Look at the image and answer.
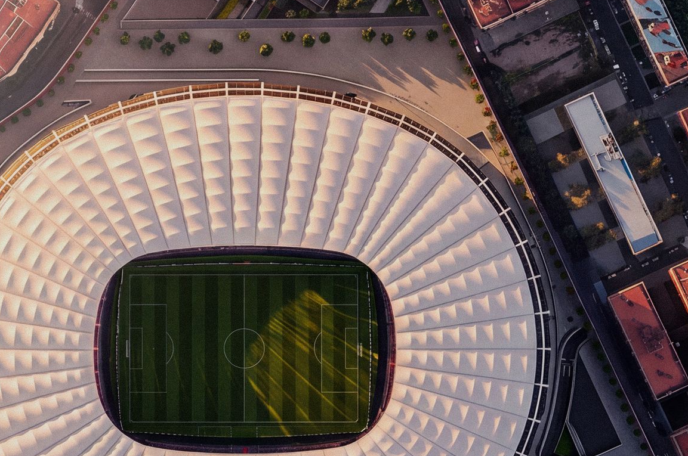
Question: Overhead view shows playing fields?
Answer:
Yes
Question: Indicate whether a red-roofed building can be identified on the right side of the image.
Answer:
Yes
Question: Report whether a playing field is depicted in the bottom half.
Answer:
Yes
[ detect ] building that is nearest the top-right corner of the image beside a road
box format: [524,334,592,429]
[621,0,688,87]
